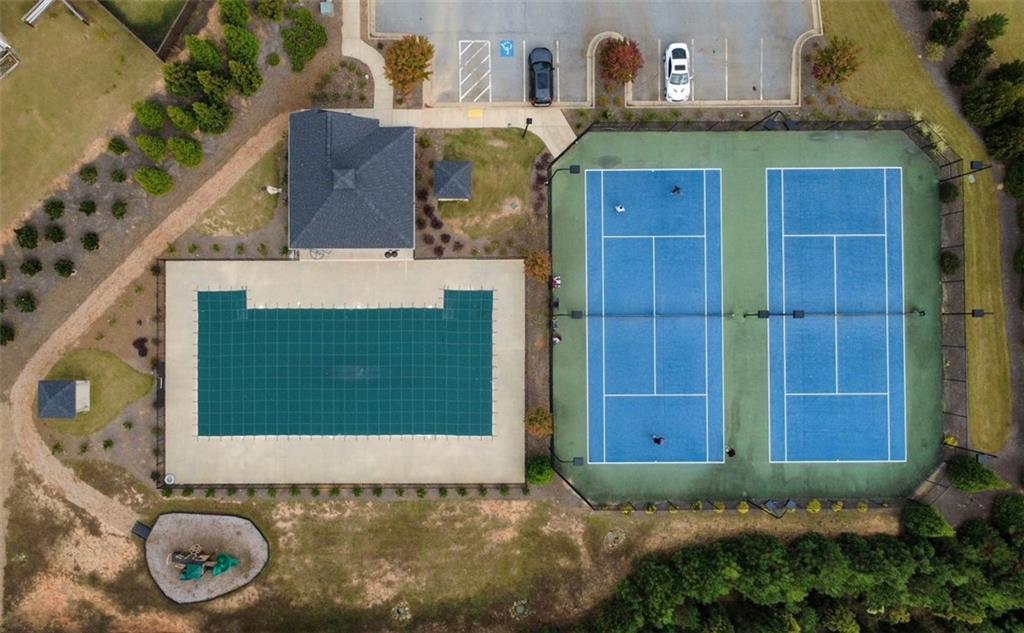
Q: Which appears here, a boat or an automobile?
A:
automobile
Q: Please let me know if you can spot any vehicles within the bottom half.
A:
No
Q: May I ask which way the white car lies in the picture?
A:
vertically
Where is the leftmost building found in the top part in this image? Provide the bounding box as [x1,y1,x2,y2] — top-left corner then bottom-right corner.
[287,108,415,249]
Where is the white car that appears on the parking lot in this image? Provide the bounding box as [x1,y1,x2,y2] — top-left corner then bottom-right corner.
[667,42,695,103]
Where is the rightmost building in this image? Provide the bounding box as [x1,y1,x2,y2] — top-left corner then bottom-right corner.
[433,161,473,202]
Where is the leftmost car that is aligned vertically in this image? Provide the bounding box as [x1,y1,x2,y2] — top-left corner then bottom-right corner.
[528,48,555,107]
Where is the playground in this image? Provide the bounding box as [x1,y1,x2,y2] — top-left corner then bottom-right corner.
[130,512,270,606]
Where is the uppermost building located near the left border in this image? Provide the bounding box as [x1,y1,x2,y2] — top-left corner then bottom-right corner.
[38,380,90,418]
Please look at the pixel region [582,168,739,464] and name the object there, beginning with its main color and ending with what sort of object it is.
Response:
blue tennis court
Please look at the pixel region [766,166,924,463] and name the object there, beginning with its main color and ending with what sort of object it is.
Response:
blue tennis court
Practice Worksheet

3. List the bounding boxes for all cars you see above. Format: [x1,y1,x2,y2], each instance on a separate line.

[528,48,555,107]
[667,42,695,103]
